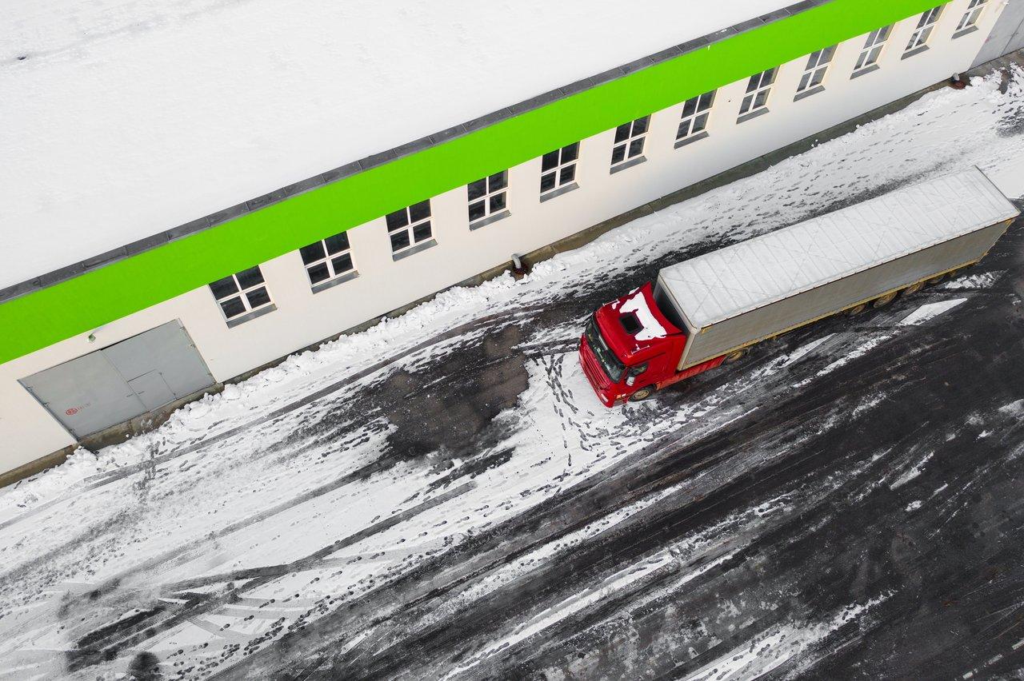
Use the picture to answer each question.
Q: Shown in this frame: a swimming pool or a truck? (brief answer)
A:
truck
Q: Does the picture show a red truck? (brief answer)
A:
Yes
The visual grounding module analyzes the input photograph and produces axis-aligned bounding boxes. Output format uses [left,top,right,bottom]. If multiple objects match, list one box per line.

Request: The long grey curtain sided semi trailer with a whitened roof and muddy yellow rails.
[650,167,1020,374]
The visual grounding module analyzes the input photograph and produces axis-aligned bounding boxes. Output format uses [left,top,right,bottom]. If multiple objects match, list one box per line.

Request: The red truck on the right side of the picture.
[580,283,749,406]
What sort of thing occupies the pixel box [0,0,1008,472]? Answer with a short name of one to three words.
building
